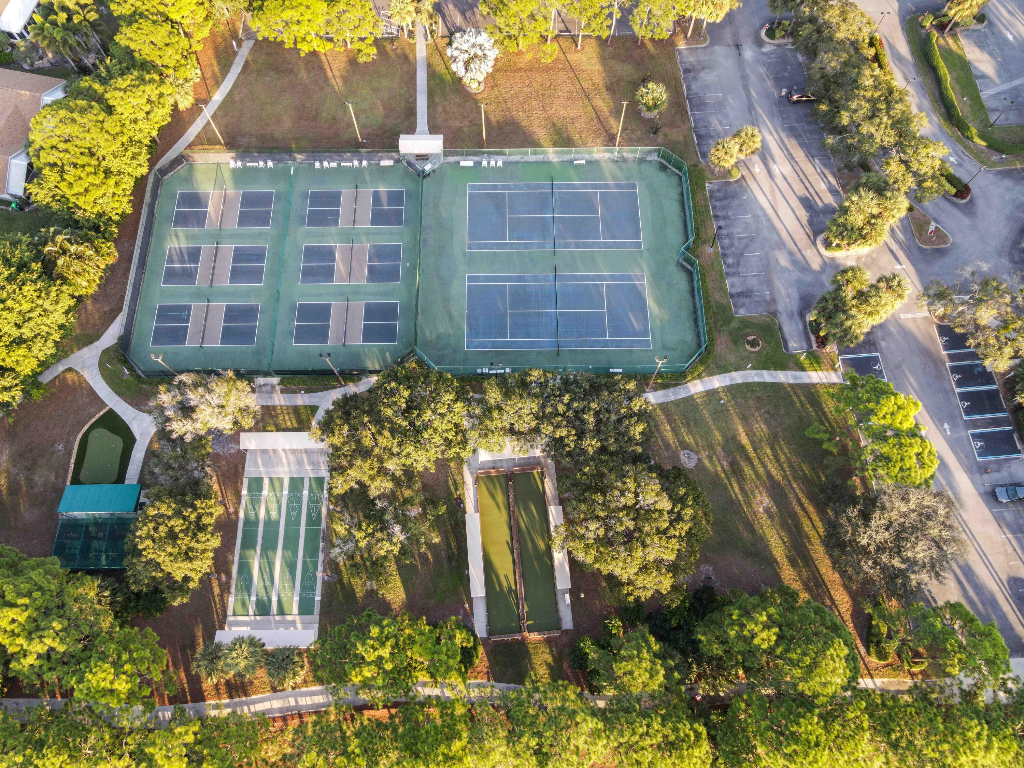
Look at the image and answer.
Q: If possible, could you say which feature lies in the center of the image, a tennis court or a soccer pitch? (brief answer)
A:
tennis court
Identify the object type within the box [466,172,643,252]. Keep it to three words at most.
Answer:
tennis court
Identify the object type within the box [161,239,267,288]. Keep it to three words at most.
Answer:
sports court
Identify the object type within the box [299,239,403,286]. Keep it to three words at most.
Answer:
sports court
